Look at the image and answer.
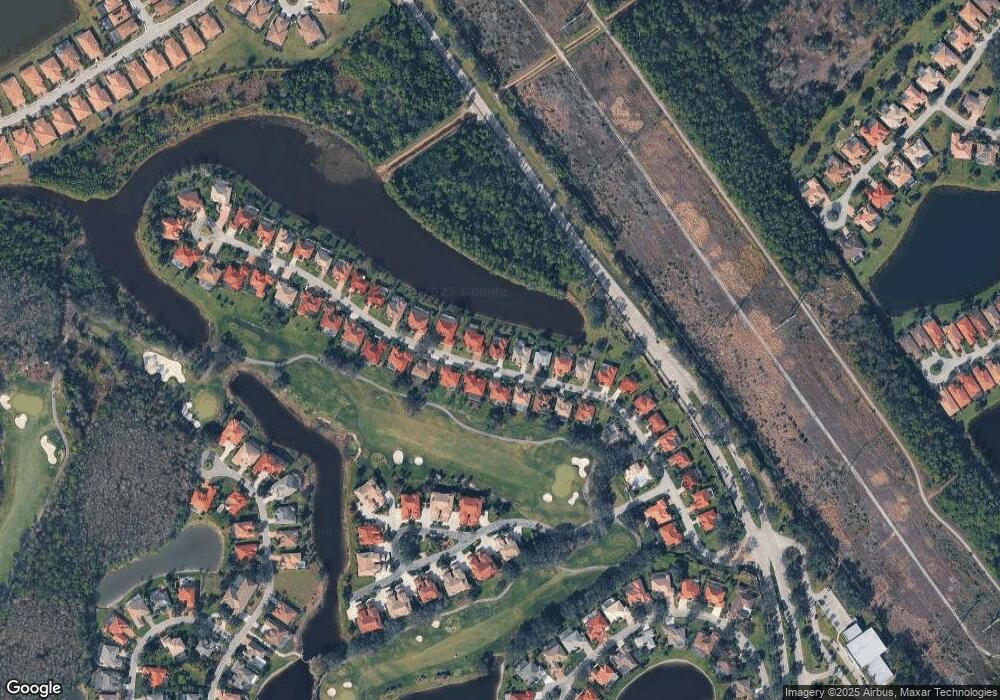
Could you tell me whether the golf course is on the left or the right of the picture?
left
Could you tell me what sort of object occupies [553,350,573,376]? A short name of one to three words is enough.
house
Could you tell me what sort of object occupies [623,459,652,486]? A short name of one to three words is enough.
building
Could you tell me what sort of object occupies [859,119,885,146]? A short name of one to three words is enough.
house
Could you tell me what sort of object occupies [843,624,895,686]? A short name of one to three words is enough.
building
